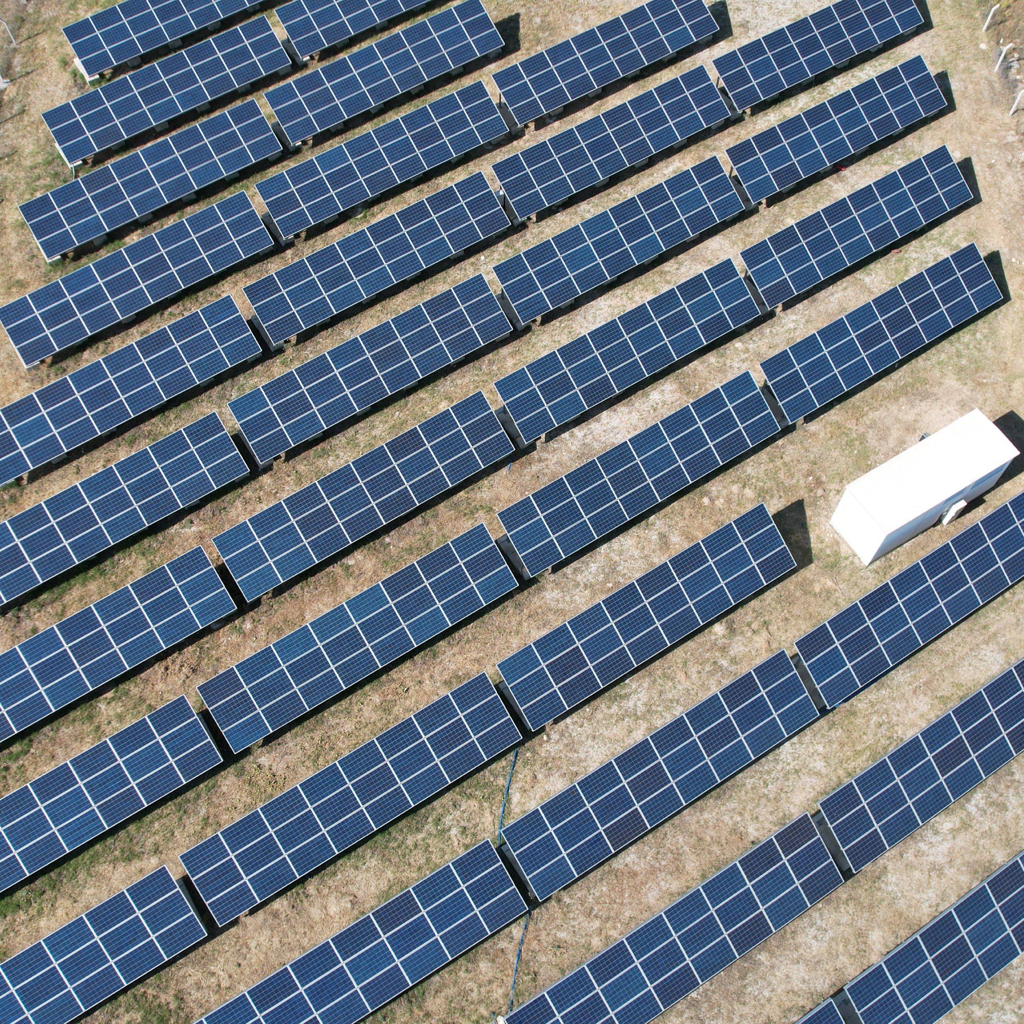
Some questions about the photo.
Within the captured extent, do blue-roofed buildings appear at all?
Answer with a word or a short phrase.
No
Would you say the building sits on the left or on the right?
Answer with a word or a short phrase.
right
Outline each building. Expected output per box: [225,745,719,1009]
[830,409,1020,566]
